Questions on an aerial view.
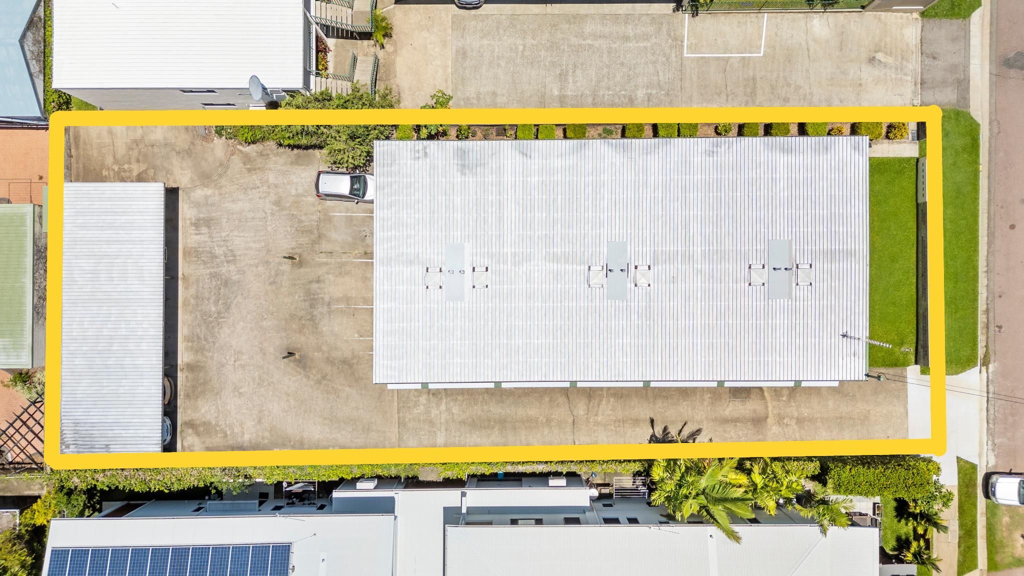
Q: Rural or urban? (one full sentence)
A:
From above, the setting appears urban.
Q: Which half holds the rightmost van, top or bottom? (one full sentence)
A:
Seen from above, the rightmost van lies in the bottom half of the view.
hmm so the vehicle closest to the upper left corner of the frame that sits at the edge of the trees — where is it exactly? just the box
[315,168,373,204]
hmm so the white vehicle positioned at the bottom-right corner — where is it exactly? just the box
[985,470,1024,510]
